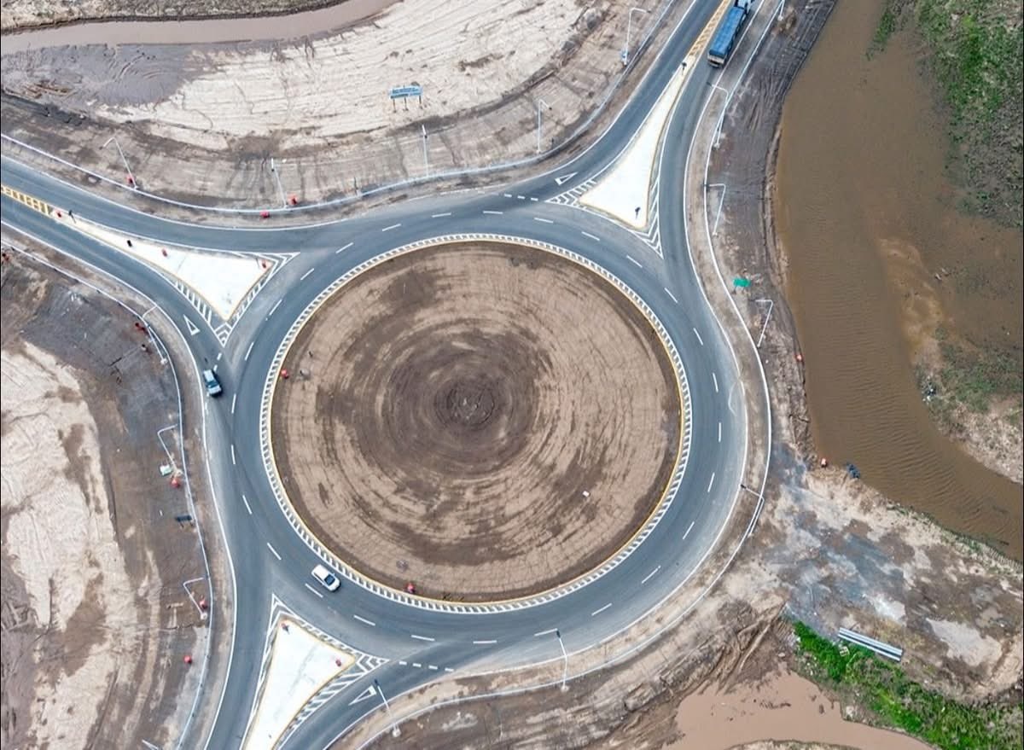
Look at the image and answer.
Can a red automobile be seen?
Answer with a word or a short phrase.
No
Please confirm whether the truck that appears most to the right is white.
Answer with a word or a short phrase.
No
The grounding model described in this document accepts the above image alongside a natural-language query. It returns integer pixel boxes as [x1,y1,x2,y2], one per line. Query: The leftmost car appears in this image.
[203,369,222,397]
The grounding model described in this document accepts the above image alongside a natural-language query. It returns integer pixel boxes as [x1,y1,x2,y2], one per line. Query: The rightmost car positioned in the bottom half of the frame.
[311,563,339,590]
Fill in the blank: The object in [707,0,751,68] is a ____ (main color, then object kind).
blue truck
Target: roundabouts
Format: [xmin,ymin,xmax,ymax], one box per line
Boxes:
[0,0,764,750]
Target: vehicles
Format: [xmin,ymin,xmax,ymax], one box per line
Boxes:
[203,369,222,397]
[707,0,751,68]
[311,563,339,590]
